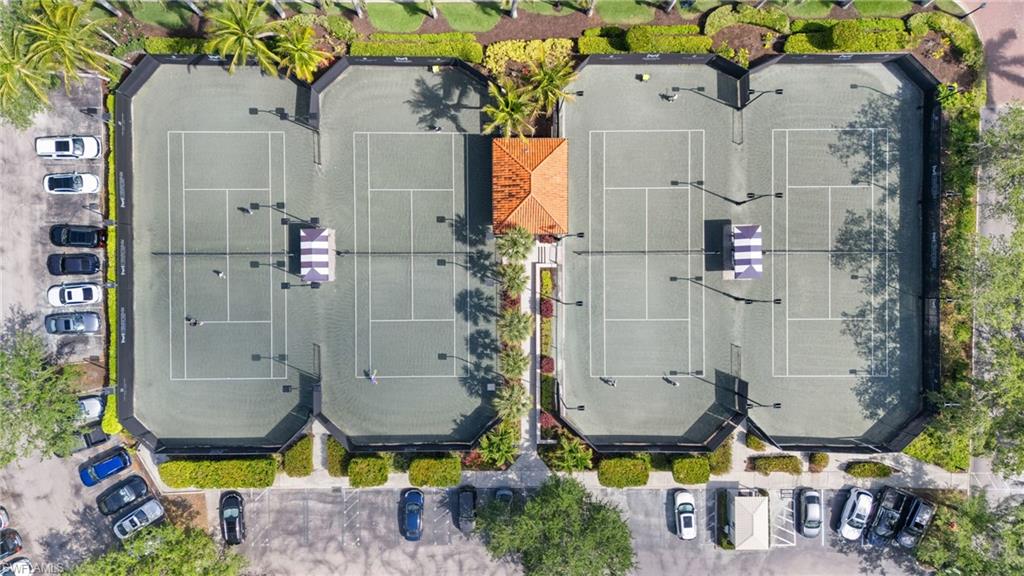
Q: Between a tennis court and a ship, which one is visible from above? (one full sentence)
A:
Of the two, only a tennis court appears.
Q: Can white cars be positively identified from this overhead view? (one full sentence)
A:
Yes, the photo shows a white car.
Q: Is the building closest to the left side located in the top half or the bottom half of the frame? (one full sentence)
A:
The building closest to the left side sits in the top half of the picture.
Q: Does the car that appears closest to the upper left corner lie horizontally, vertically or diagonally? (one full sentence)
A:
The car that appears closest to the upper left corner is oriented horizontally.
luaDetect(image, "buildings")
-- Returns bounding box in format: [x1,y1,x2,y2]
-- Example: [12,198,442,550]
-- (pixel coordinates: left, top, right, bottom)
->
[491,137,569,236]
[729,492,769,550]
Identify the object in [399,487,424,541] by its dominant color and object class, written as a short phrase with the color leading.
blue car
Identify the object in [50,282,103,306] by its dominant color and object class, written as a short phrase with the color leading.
white car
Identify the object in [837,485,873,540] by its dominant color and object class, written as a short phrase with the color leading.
white car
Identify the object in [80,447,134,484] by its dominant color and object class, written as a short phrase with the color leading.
blue car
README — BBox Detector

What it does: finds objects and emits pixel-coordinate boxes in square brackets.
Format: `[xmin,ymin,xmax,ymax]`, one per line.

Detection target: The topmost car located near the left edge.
[35,134,102,160]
